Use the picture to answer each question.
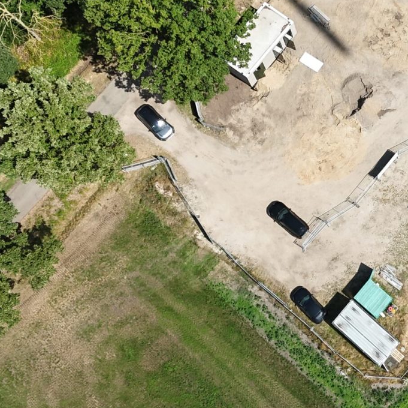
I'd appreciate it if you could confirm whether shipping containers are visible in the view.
Yes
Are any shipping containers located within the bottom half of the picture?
Yes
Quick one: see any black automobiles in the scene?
Yes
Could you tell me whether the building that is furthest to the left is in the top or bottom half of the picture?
top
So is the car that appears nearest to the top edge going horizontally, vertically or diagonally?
diagonally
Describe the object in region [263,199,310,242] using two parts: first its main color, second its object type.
black car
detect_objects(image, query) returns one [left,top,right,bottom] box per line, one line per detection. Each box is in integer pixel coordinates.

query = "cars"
[133,103,176,143]
[285,282,329,328]
[263,199,310,242]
